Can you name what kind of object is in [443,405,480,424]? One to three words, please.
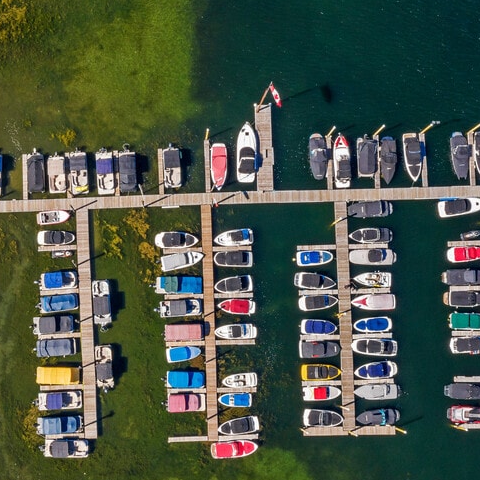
boat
